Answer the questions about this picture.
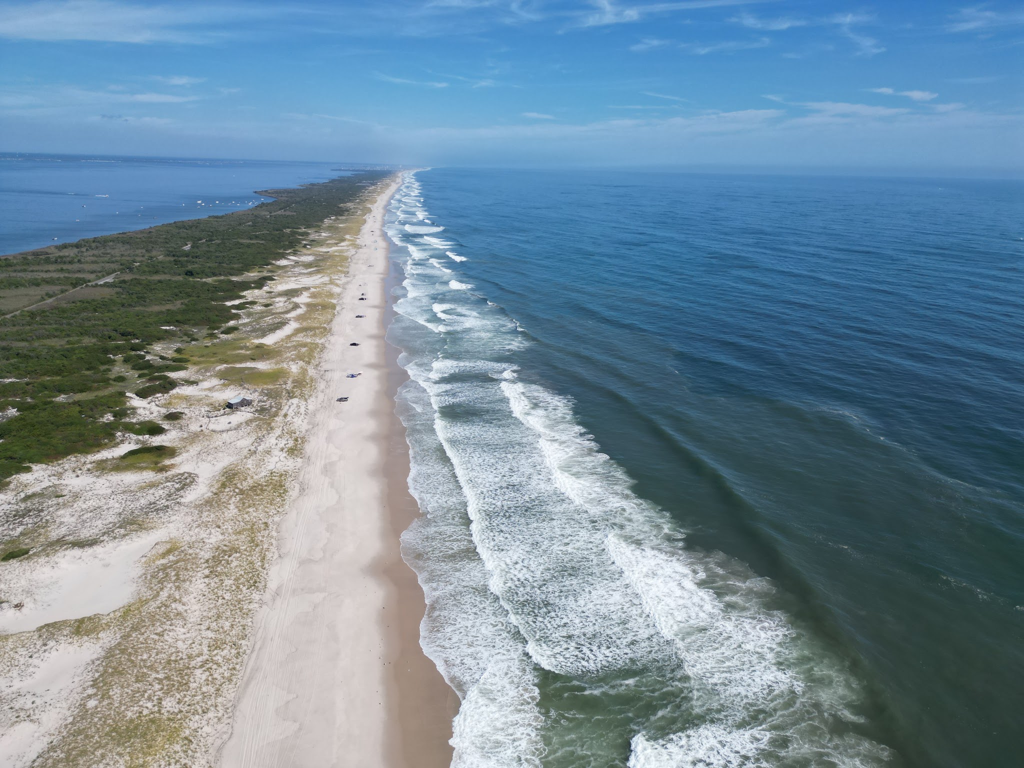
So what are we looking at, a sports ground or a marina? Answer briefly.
marina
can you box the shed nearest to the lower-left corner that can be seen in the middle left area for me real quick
[225,389,252,407]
